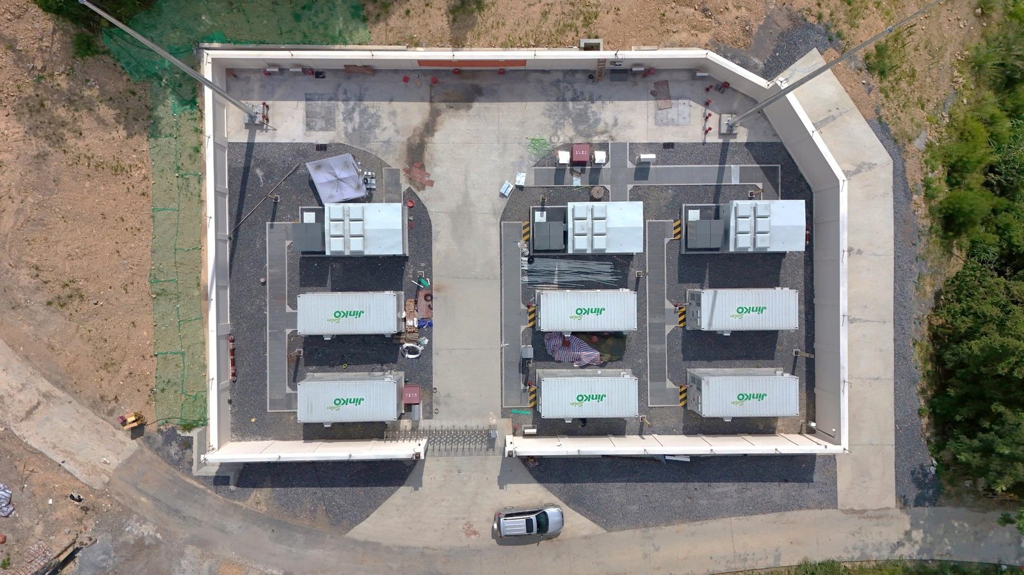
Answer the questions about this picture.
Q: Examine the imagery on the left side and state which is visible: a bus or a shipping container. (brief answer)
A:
shipping container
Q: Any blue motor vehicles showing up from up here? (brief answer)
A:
No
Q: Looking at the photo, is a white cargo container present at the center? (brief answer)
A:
Yes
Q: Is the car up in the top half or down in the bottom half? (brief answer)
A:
bottom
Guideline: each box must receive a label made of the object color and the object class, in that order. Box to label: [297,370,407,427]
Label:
white shipping container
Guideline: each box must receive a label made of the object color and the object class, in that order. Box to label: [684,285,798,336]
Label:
white shipping container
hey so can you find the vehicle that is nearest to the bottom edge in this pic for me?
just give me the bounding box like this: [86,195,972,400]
[493,504,562,540]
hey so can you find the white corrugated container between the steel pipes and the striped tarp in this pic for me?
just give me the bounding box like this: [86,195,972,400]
[533,285,637,337]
